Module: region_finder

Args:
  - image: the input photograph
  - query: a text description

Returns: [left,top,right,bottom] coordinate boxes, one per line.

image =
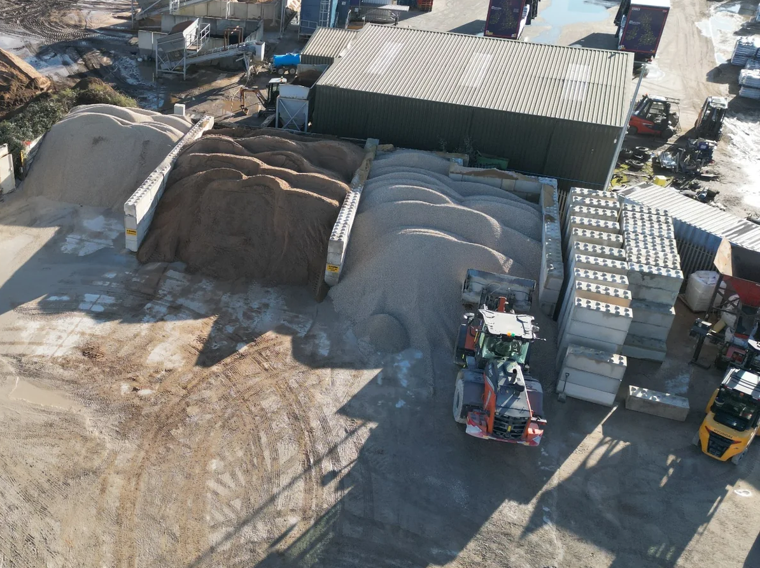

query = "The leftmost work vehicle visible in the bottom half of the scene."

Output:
[462,272,556,448]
